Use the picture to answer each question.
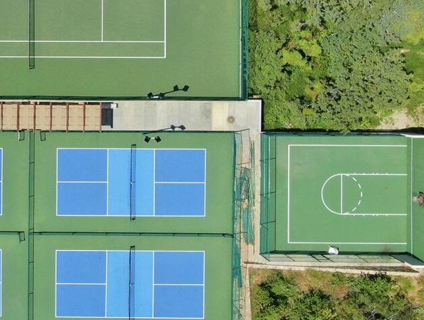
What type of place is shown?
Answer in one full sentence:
It's a sports ground.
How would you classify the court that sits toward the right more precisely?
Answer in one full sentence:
I'd identify the court that sits toward the right as a basketball court.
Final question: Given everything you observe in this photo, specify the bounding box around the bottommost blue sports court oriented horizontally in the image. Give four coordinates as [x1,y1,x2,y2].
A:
[55,250,205,319]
